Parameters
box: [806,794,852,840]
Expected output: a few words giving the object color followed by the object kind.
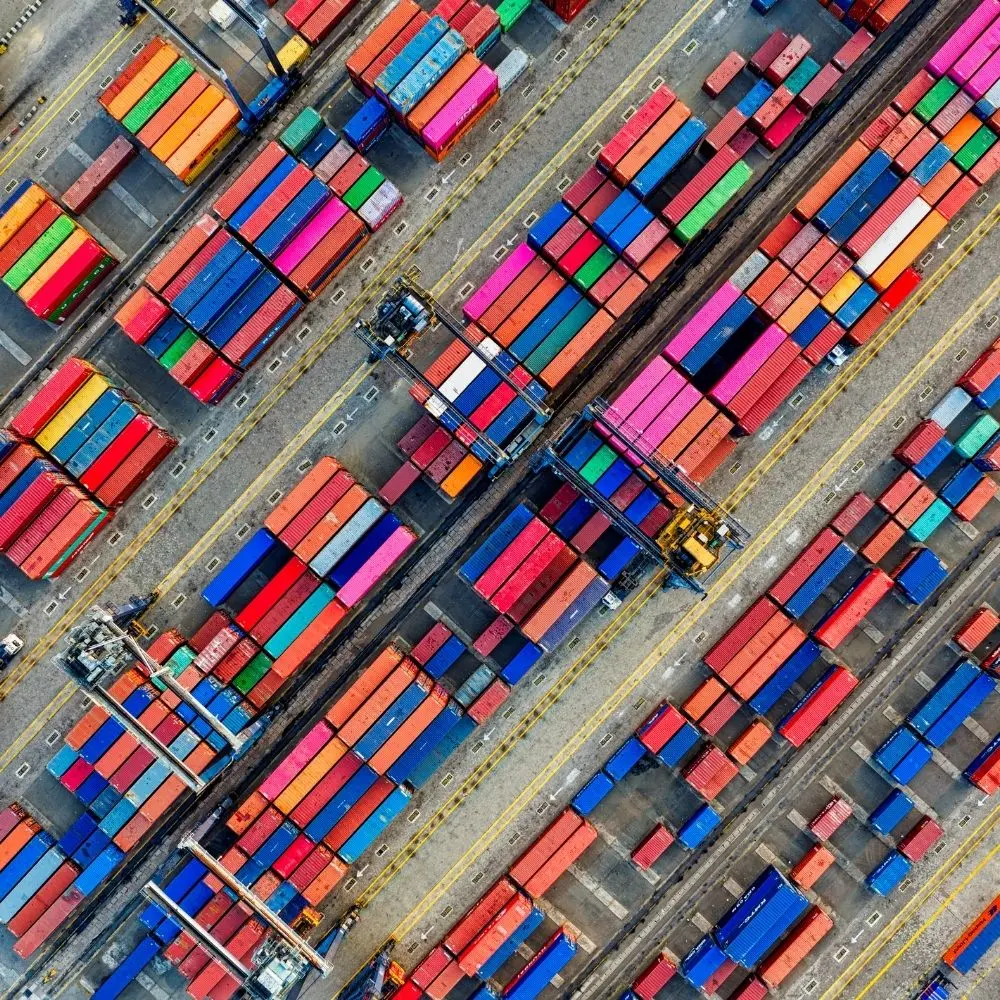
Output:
pink shipping container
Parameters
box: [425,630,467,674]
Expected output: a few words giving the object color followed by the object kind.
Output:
blue shipping container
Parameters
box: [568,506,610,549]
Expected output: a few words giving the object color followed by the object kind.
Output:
red shipping container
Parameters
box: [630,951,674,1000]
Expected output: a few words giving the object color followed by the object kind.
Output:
red shipping container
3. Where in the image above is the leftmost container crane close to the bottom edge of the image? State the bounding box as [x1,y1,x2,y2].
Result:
[133,793,357,1000]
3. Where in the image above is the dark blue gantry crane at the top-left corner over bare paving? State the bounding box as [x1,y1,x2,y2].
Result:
[125,0,299,132]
